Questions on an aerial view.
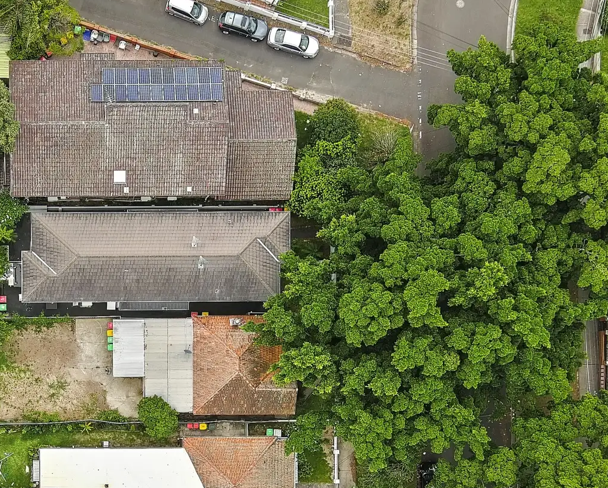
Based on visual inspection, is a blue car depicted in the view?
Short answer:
No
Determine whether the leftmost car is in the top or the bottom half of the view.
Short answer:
top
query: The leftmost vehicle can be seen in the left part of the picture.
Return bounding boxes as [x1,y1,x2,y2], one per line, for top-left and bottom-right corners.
[162,0,211,26]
